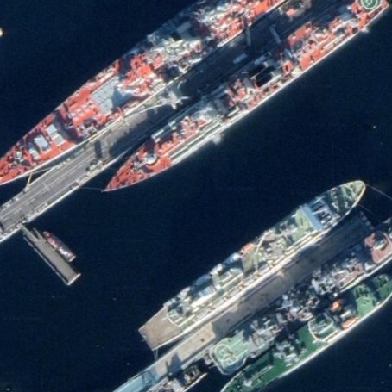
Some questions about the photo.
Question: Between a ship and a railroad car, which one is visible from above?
ship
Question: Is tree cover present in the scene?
No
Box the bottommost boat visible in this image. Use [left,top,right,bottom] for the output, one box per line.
[166,368,208,392]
